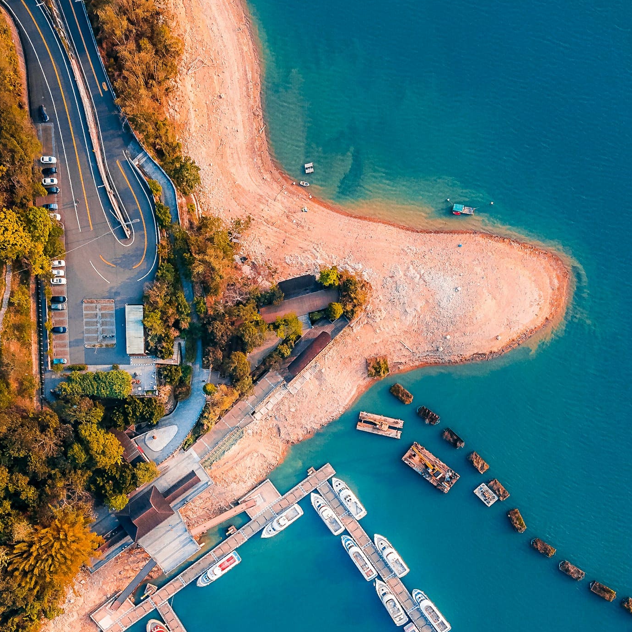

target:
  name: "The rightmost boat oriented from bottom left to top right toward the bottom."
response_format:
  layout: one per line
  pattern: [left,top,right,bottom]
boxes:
[262,505,303,538]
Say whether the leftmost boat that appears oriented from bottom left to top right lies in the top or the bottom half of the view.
bottom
